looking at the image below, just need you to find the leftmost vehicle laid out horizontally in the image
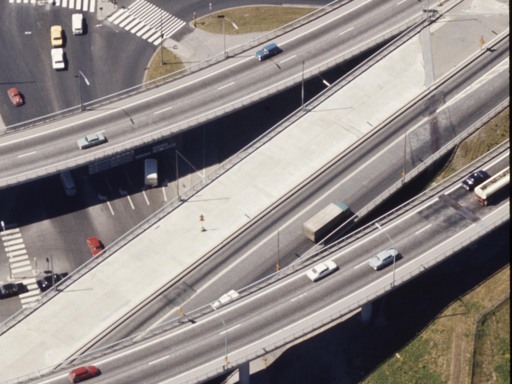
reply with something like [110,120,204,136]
[0,284,28,300]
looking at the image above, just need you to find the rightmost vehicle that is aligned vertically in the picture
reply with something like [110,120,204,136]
[144,154,158,187]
